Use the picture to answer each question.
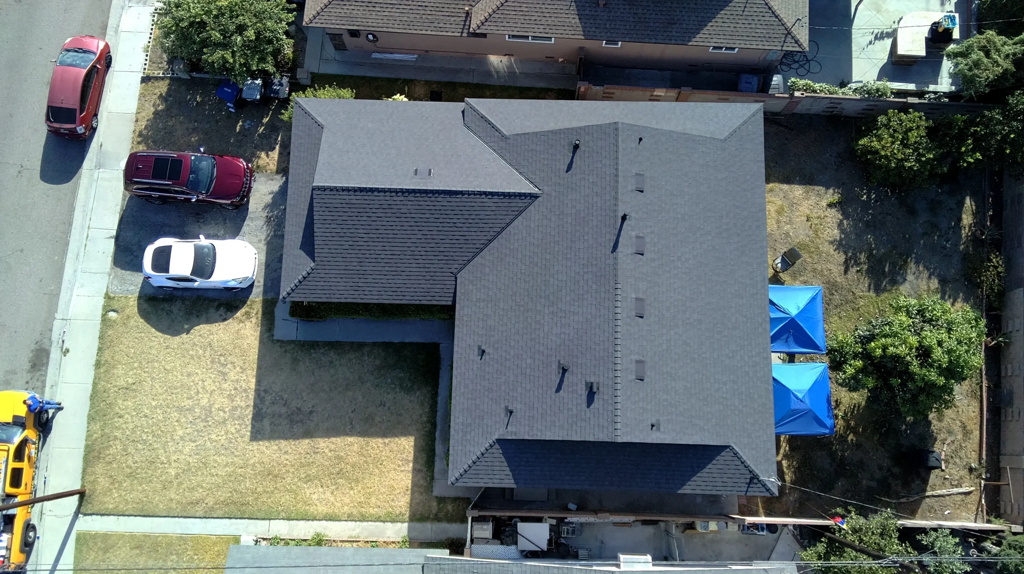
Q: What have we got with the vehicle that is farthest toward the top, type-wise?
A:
car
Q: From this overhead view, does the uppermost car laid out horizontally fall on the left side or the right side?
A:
left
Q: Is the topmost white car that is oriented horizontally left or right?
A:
left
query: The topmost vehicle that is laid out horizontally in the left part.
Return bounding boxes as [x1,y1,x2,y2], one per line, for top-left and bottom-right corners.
[121,147,256,210]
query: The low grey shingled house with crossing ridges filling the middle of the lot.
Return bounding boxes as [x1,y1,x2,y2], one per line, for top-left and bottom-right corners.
[280,97,780,495]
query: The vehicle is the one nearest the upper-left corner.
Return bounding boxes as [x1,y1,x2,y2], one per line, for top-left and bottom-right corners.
[42,36,110,141]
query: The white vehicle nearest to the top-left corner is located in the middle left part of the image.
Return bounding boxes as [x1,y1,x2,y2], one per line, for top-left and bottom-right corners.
[142,234,260,292]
